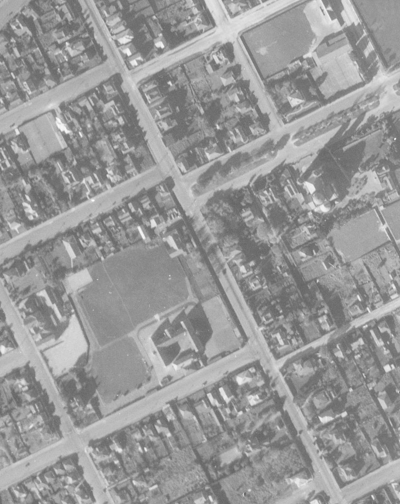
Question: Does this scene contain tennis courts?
Yes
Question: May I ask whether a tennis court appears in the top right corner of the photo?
Yes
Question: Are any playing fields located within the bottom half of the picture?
Yes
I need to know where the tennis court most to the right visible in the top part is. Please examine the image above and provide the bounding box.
[319,43,354,98]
